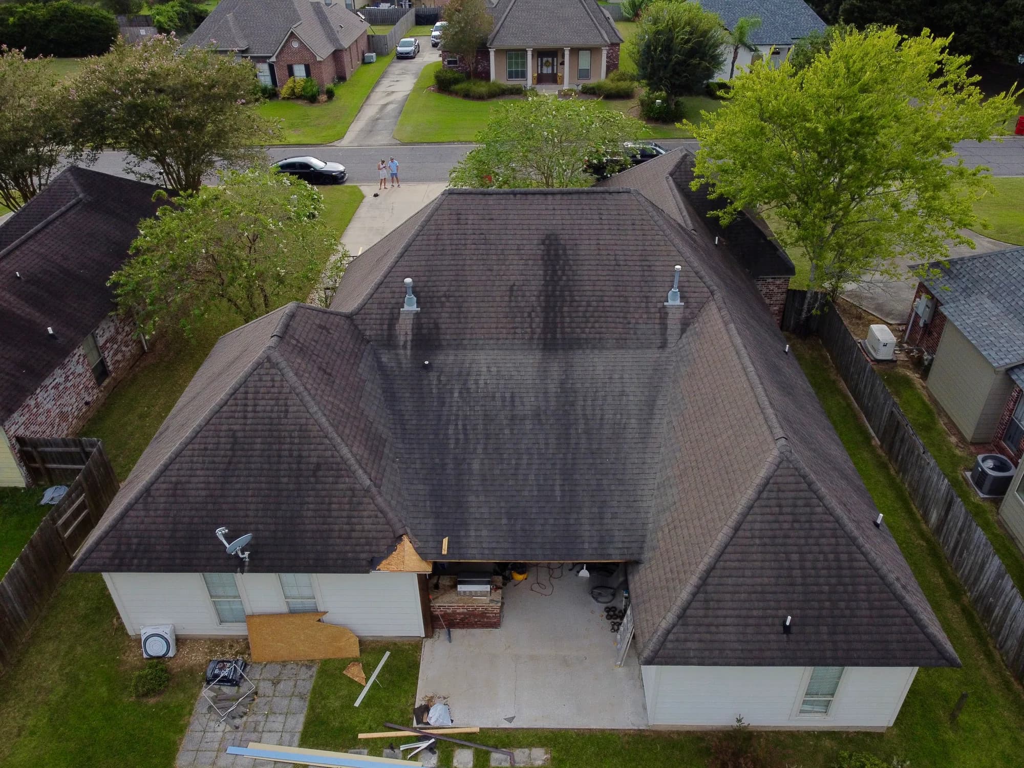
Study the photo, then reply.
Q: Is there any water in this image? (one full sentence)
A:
No, water can't be seen anywhere here.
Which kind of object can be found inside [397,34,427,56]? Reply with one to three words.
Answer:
car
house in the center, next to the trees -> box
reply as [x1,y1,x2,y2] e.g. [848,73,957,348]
[73,147,963,731]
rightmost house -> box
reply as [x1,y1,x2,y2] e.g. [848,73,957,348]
[893,261,1024,554]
